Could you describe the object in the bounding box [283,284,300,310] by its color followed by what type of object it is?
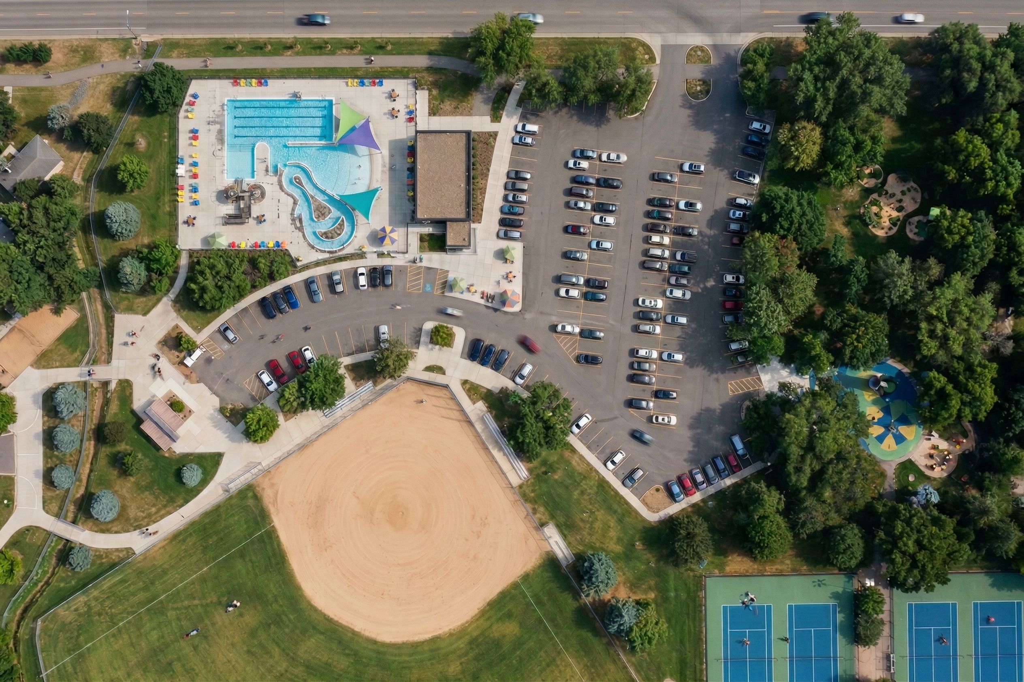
blue vehicle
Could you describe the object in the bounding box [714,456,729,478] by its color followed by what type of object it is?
blue car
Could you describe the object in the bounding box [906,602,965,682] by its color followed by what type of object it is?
blue tennis court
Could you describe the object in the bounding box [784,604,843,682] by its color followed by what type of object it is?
blue tennis court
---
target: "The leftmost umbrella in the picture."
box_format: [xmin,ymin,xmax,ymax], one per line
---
[207,231,225,249]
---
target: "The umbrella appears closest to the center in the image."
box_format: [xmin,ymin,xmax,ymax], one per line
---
[500,288,520,309]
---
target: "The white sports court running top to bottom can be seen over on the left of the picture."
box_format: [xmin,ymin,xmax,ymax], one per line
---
[17,410,41,509]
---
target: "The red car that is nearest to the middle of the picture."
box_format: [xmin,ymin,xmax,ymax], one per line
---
[517,333,538,350]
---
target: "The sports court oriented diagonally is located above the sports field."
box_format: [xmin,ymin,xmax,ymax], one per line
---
[0,297,80,388]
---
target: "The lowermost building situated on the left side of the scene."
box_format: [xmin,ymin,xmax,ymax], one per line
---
[140,398,184,451]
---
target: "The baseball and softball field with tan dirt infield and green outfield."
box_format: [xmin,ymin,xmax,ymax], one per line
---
[37,379,637,682]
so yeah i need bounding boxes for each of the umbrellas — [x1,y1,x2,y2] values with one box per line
[451,276,466,293]
[501,246,517,260]
[207,231,225,249]
[500,288,520,309]
[378,226,397,245]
